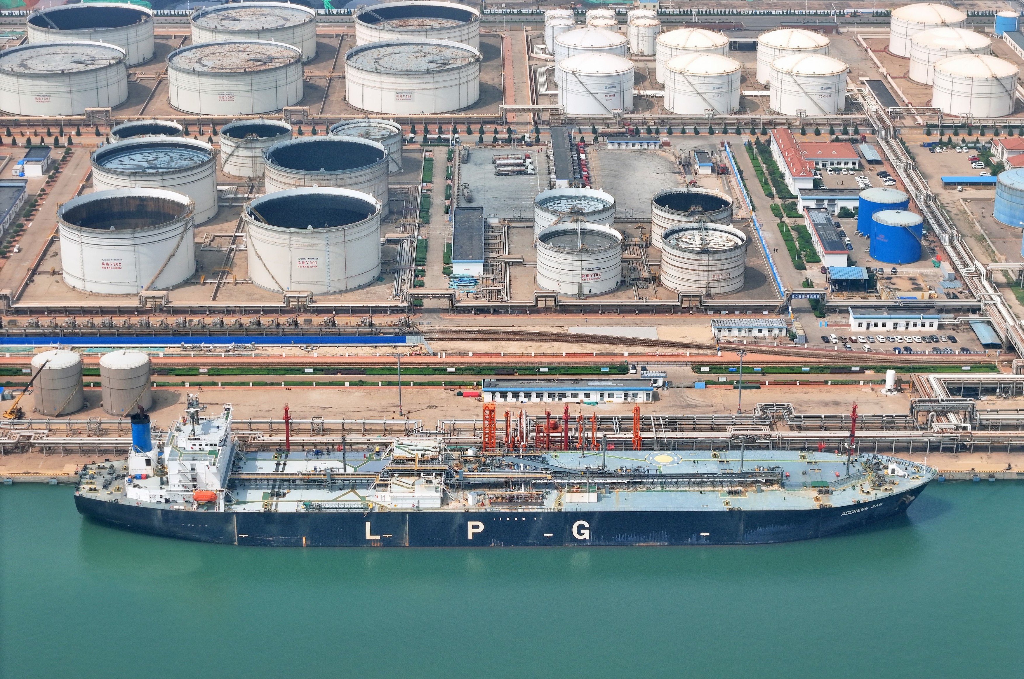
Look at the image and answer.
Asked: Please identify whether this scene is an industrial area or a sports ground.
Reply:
industrial area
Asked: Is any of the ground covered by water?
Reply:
Yes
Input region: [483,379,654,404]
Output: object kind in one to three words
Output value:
building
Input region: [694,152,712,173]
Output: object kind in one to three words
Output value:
house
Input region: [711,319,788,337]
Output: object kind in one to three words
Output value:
building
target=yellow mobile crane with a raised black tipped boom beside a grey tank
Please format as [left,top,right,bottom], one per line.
[0,353,48,416]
